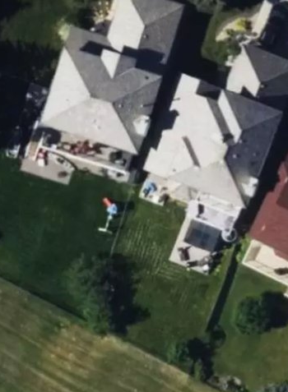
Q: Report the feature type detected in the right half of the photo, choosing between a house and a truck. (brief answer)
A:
house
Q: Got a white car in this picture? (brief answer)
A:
No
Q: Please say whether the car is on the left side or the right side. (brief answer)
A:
right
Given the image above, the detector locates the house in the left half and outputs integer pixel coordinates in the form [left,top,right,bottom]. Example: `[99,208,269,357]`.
[26,0,185,173]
